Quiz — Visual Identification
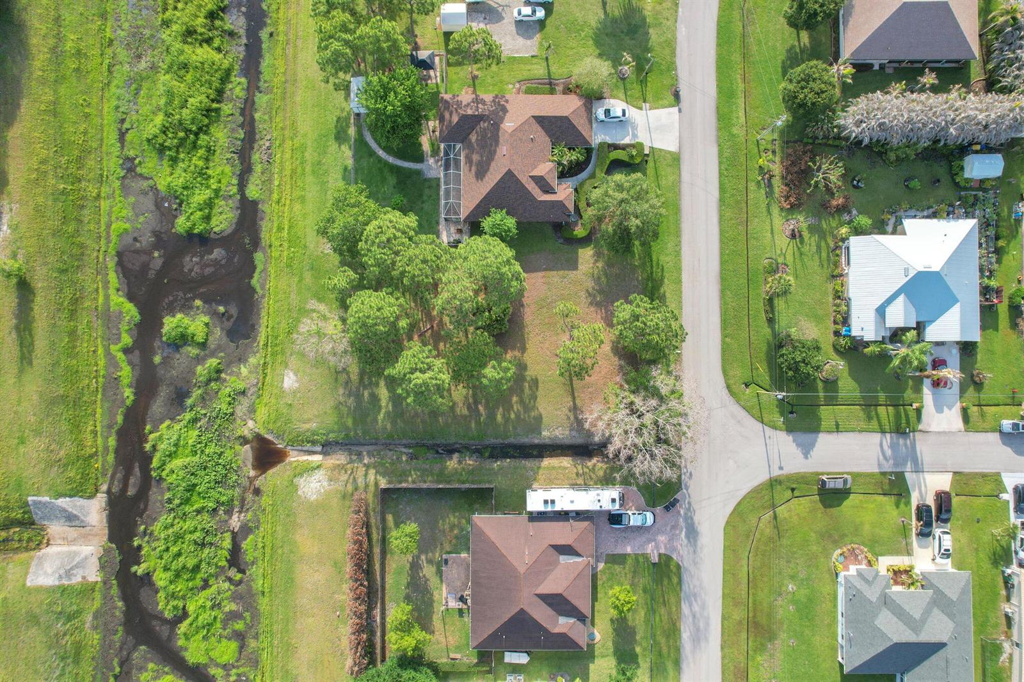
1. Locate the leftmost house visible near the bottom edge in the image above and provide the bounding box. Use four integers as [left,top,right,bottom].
[470,514,595,651]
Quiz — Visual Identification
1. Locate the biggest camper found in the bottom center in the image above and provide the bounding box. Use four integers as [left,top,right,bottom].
[527,485,621,511]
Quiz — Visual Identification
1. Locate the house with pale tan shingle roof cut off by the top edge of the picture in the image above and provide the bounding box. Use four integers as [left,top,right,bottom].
[838,0,978,69]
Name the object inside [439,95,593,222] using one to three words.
house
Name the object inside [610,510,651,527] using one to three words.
vehicle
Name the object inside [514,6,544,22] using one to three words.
car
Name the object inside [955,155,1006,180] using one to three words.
shed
